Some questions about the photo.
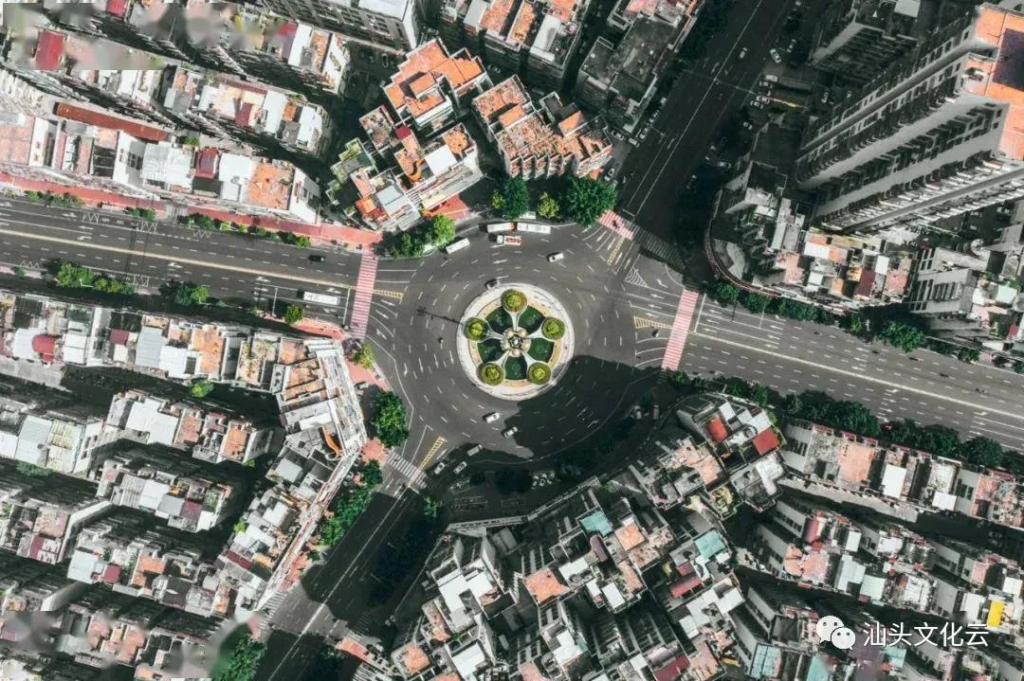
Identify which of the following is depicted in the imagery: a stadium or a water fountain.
water fountain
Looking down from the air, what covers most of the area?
buildings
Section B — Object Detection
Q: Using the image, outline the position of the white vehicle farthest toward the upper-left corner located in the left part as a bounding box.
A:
[302,292,338,304]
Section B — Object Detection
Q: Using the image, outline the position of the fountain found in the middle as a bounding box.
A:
[502,330,530,356]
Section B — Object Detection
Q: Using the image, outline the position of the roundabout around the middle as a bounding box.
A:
[392,219,640,463]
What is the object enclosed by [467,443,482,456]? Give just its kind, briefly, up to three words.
vehicle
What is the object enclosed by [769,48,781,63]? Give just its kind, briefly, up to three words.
vehicle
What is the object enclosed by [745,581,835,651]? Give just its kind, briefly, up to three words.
building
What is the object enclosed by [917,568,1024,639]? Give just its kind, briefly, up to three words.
building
